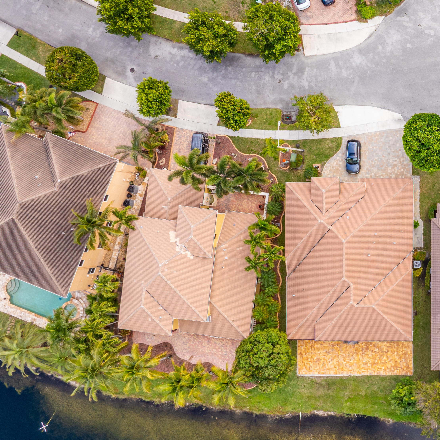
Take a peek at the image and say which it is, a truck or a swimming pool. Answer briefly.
swimming pool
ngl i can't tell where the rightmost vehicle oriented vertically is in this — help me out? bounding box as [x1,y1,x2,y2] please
[344,140,362,174]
